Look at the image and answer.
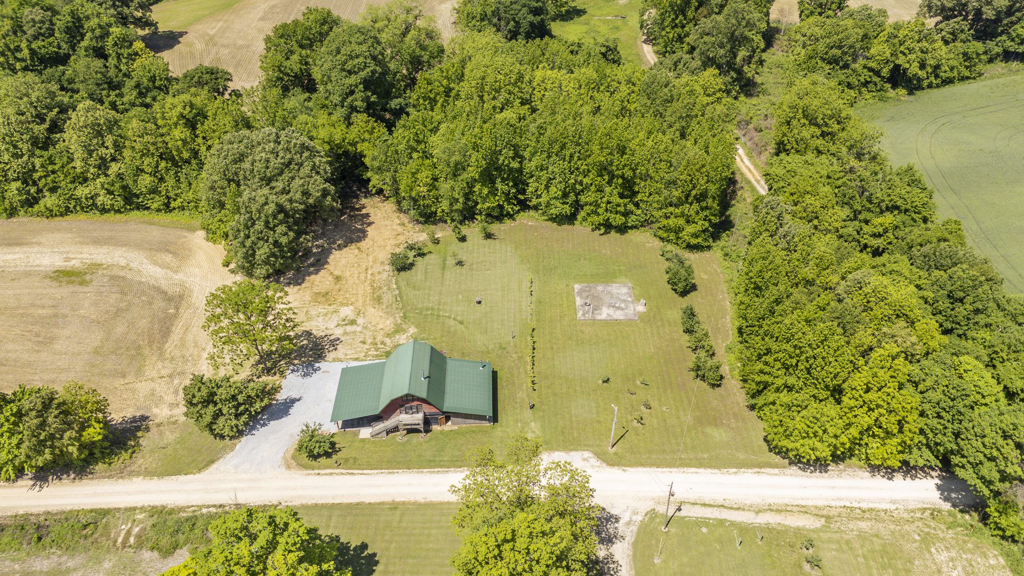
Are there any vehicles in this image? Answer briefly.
No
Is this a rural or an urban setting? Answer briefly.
rural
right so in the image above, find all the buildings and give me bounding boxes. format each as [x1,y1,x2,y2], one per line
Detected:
[330,339,493,438]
